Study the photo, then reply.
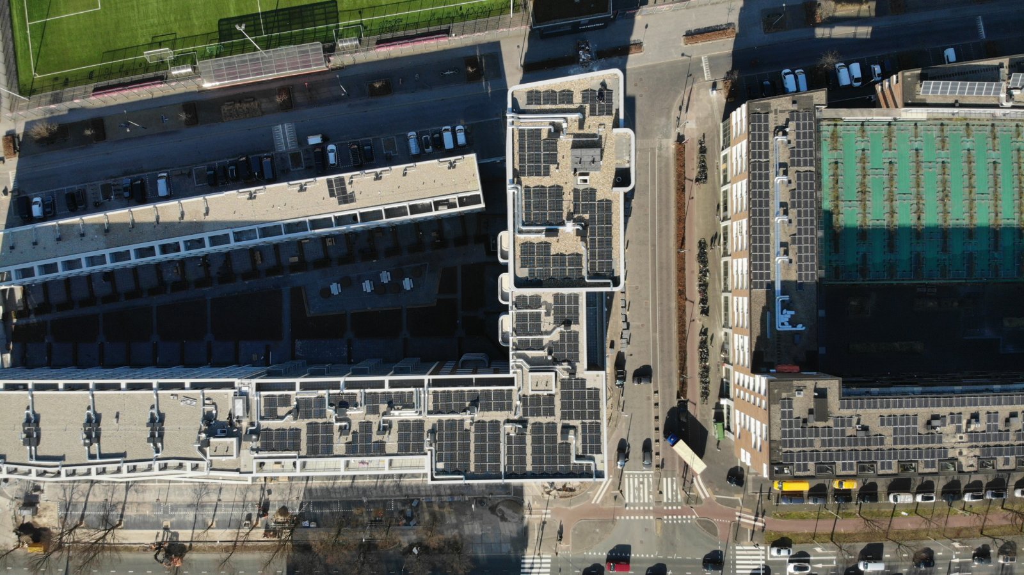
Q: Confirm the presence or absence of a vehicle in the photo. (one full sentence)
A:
Yes, a vehicle can be made out from above.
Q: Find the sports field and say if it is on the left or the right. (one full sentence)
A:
It is on the left.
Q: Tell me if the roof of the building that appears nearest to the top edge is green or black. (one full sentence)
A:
In this view, the roof of the building that appears nearest to the top edge is black.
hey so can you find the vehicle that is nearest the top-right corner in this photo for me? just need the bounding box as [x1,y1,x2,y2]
[942,48,956,64]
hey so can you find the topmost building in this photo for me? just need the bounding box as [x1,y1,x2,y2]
[529,0,612,39]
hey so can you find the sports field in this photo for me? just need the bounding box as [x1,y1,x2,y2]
[11,0,511,99]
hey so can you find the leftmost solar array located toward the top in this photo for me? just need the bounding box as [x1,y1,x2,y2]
[327,178,353,204]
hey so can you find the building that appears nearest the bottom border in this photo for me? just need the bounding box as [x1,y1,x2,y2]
[11,508,37,522]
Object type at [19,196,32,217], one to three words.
vehicle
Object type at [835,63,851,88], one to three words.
vehicle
